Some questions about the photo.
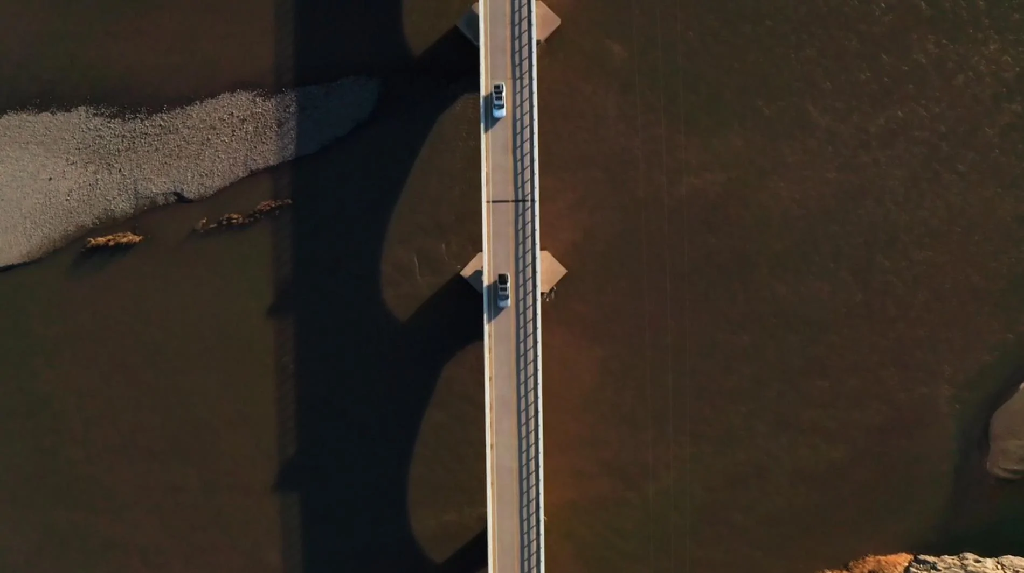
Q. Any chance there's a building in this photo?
No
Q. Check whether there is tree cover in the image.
No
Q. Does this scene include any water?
Yes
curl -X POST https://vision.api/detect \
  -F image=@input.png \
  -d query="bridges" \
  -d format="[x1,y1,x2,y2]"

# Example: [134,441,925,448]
[454,0,566,573]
